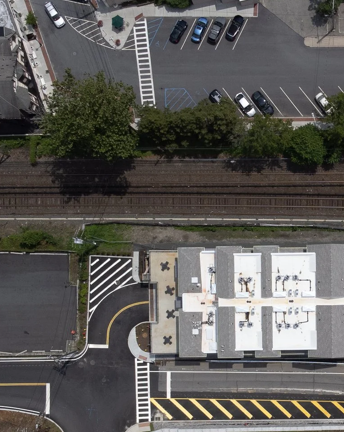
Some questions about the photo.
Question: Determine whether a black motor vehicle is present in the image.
Yes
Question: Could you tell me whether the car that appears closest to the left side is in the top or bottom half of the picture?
top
